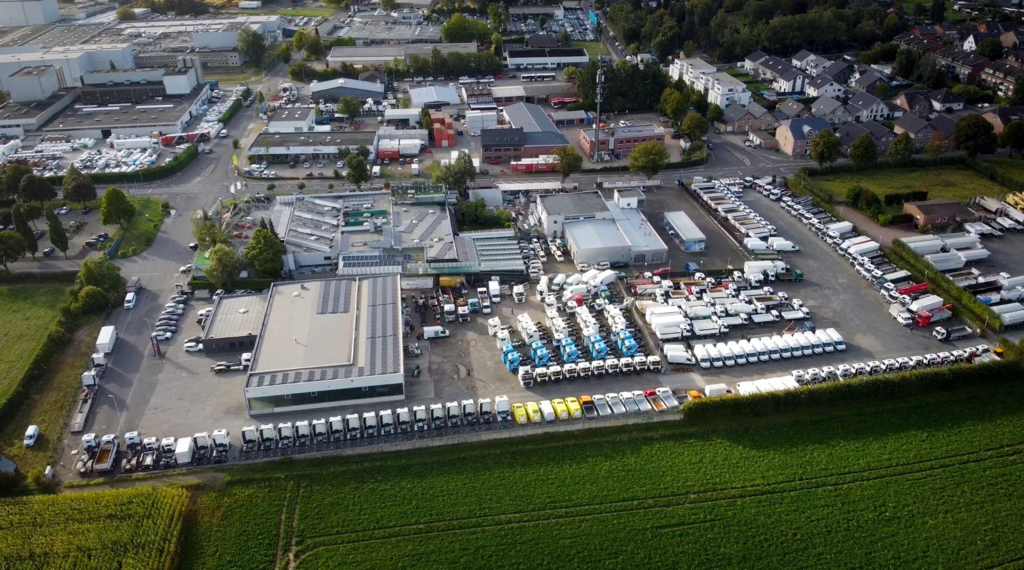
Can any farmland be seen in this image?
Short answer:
Yes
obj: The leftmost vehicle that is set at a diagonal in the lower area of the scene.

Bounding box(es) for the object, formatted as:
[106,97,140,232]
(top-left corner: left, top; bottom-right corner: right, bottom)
[19,422,46,446]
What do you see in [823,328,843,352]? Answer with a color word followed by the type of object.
white vehicle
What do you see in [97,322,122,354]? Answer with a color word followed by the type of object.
white truck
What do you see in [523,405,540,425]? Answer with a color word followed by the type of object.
yellow vehicle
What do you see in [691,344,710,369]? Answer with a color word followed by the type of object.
white vehicle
